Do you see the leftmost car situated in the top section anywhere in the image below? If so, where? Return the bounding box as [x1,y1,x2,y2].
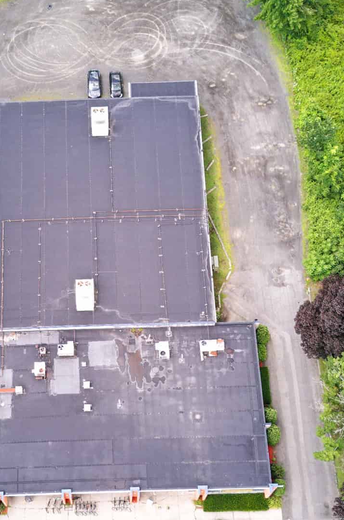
[86,66,102,99]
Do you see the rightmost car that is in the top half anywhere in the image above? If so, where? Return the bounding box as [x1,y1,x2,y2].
[108,67,124,98]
